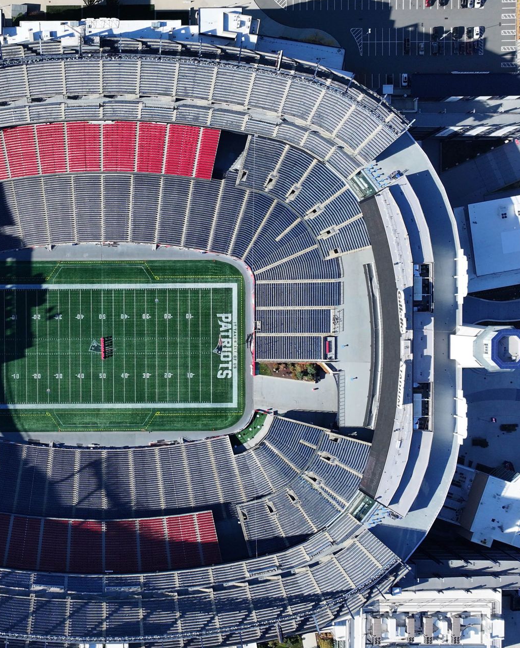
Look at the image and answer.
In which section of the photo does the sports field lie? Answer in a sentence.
Look in the left portion of the view to spot the sports field.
